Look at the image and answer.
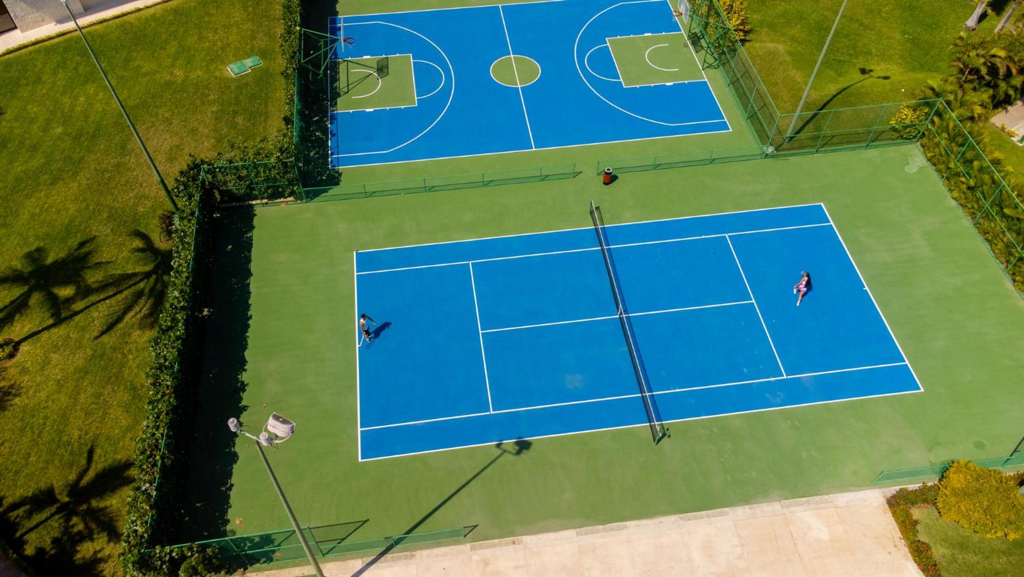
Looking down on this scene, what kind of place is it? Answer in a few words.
sports ground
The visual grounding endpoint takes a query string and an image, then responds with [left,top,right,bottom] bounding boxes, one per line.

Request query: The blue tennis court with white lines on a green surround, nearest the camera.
[174,144,1024,570]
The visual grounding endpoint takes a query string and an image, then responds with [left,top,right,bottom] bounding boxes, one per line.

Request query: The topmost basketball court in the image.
[302,0,763,200]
